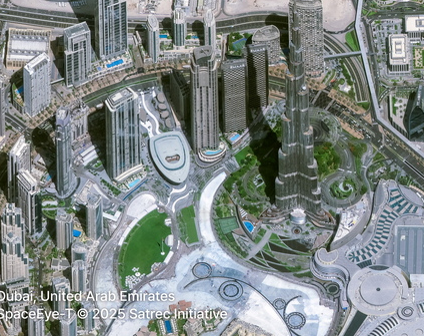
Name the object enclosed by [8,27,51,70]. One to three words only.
building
